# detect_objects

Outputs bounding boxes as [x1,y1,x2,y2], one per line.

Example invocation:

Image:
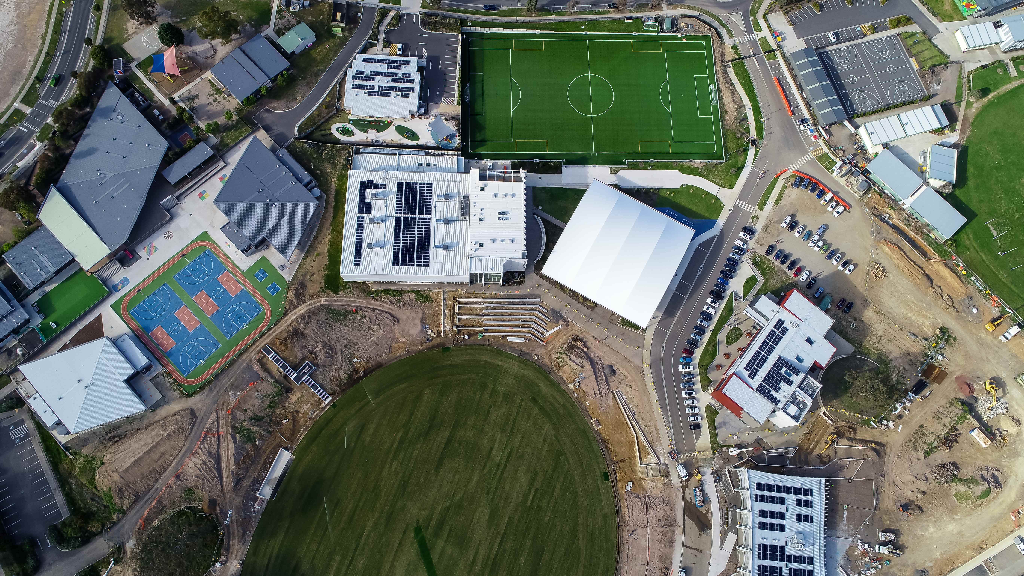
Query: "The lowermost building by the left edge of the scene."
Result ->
[17,334,153,433]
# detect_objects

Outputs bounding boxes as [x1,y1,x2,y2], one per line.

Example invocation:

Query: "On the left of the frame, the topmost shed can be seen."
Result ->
[277,22,315,57]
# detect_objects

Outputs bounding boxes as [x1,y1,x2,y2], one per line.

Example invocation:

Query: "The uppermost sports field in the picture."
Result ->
[461,33,724,166]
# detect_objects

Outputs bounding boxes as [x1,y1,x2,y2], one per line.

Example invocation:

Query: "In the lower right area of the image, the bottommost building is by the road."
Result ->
[727,468,831,576]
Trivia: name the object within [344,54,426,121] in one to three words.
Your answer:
building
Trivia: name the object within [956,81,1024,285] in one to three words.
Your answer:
sports field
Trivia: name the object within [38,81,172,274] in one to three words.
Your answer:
building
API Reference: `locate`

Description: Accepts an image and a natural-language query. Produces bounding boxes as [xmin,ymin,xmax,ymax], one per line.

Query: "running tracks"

[120,240,271,385]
